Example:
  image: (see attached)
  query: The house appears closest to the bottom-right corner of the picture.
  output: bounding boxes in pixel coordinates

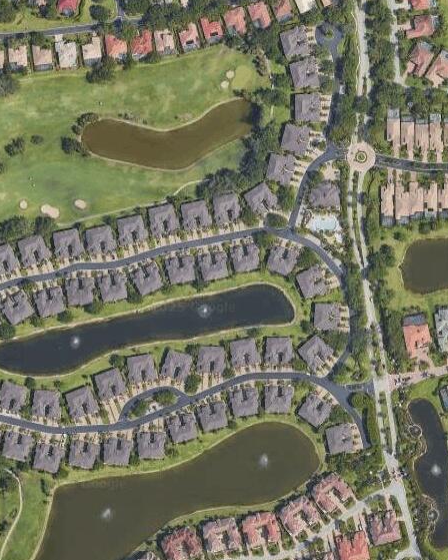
[367,512,401,545]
